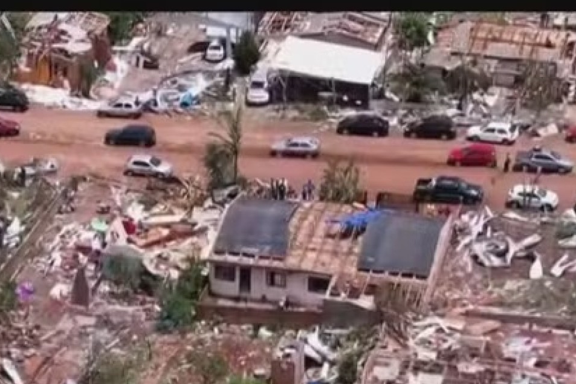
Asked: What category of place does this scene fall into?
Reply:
residential area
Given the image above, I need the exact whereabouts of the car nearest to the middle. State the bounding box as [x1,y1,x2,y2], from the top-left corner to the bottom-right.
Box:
[269,137,321,161]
